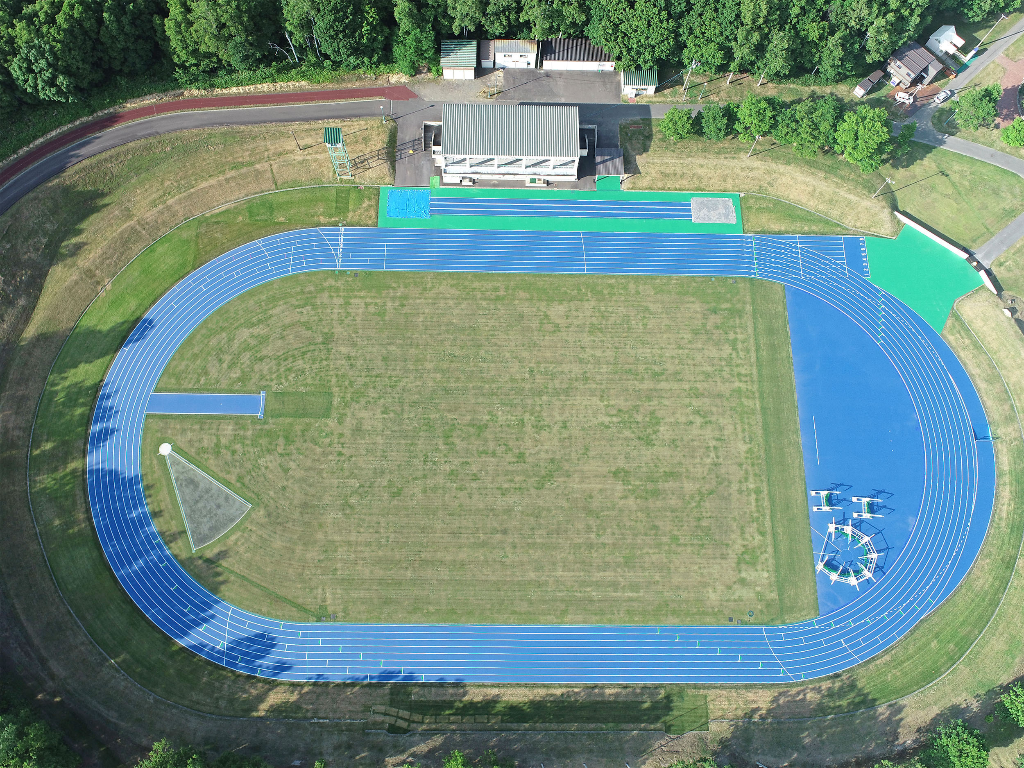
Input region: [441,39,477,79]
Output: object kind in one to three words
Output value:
building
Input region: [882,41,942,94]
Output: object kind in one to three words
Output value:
house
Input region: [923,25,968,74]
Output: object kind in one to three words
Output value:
house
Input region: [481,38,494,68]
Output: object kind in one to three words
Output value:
shed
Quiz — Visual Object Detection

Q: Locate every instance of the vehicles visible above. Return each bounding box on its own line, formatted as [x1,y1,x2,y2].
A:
[936,89,953,104]
[895,89,917,106]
